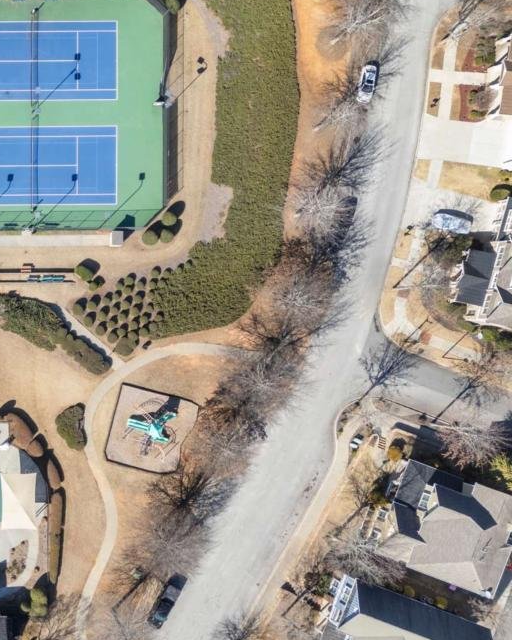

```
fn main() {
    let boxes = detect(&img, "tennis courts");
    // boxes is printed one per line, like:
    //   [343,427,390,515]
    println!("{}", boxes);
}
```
[0,0,164,114]
[0,113,164,230]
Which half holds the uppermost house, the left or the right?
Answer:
right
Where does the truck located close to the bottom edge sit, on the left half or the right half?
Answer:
left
